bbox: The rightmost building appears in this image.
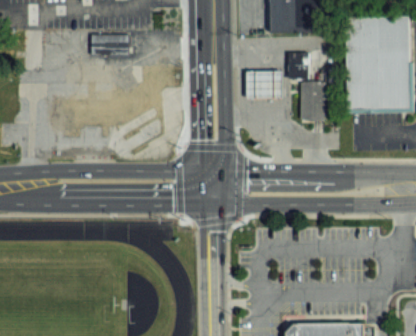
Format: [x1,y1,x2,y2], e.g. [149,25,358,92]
[346,16,416,116]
